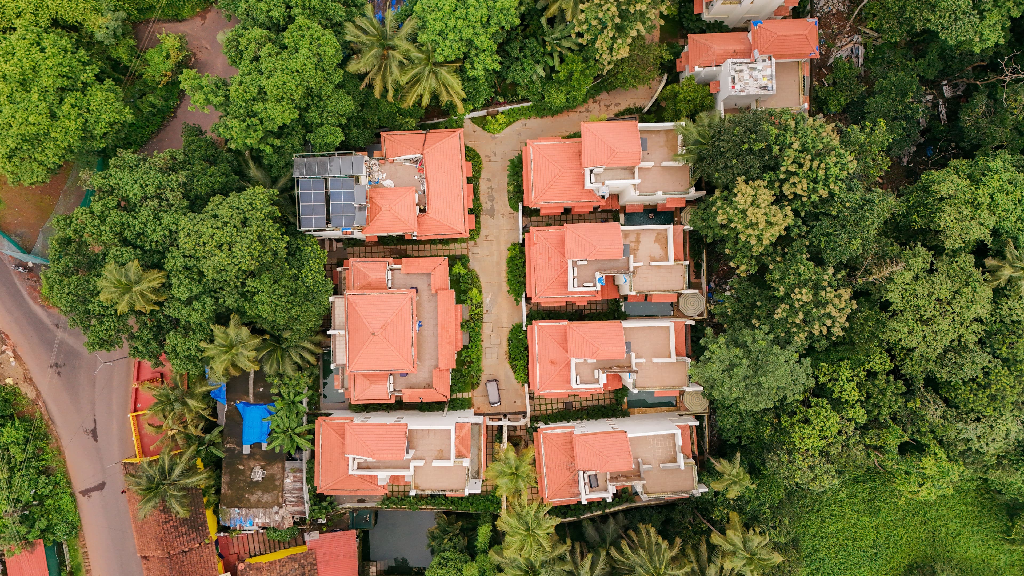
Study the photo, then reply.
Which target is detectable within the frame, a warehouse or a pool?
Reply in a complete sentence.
Of the two, only a pool appears.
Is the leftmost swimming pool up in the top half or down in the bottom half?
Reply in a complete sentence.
You can find the leftmost swimming pool in the bottom half.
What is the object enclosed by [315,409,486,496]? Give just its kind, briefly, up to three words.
house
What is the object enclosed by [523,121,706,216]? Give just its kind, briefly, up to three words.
house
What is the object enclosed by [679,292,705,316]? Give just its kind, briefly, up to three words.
umbrella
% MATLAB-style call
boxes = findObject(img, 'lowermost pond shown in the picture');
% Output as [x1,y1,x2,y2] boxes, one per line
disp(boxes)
[369,510,446,576]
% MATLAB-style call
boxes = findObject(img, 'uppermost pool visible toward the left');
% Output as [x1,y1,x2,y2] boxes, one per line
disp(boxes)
[321,348,346,405]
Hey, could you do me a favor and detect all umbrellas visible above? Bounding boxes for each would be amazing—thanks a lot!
[683,390,707,412]
[679,292,705,316]
[681,202,705,228]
